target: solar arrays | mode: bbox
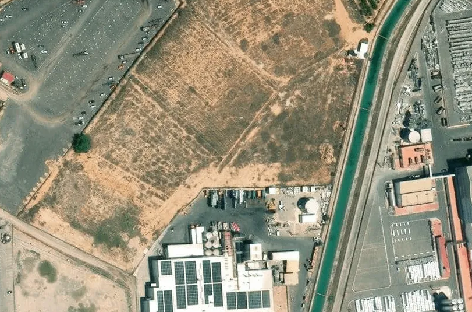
[187,285,198,305]
[160,261,172,276]
[212,263,222,282]
[263,290,271,307]
[176,286,187,309]
[214,284,223,306]
[237,292,247,310]
[157,290,164,312]
[202,261,212,282]
[164,290,173,312]
[185,261,197,284]
[204,284,213,304]
[226,293,237,310]
[174,262,184,285]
